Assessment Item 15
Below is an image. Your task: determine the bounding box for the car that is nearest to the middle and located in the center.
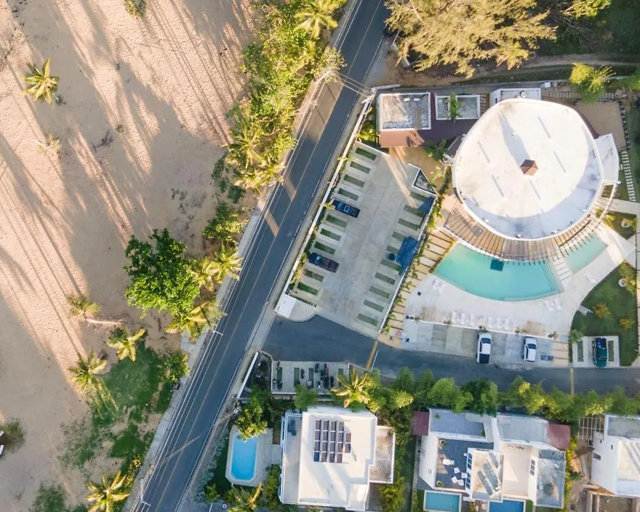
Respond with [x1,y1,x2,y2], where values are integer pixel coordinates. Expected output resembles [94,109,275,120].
[307,251,340,273]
